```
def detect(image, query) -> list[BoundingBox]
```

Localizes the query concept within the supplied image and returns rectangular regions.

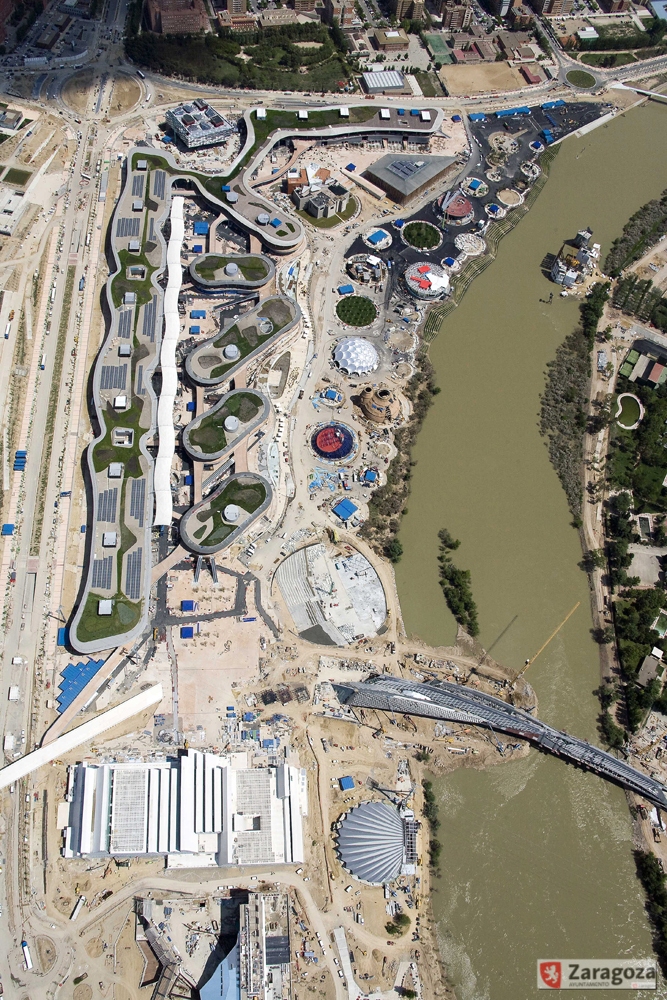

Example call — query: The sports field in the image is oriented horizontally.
[443,62,528,96]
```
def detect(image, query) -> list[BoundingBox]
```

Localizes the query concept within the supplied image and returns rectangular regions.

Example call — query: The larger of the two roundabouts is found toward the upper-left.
[61,63,144,122]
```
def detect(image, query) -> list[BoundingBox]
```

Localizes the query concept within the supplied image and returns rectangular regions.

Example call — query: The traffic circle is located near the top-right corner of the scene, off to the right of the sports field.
[561,65,601,92]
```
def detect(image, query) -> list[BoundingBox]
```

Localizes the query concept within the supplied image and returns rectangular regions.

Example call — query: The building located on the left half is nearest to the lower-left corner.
[134,896,195,1000]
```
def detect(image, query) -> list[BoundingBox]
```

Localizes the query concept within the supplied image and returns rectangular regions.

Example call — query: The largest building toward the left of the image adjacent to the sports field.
[69,105,444,659]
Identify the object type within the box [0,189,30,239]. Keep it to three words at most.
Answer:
building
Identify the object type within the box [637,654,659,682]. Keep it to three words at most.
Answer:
house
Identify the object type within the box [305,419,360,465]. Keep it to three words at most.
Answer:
building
